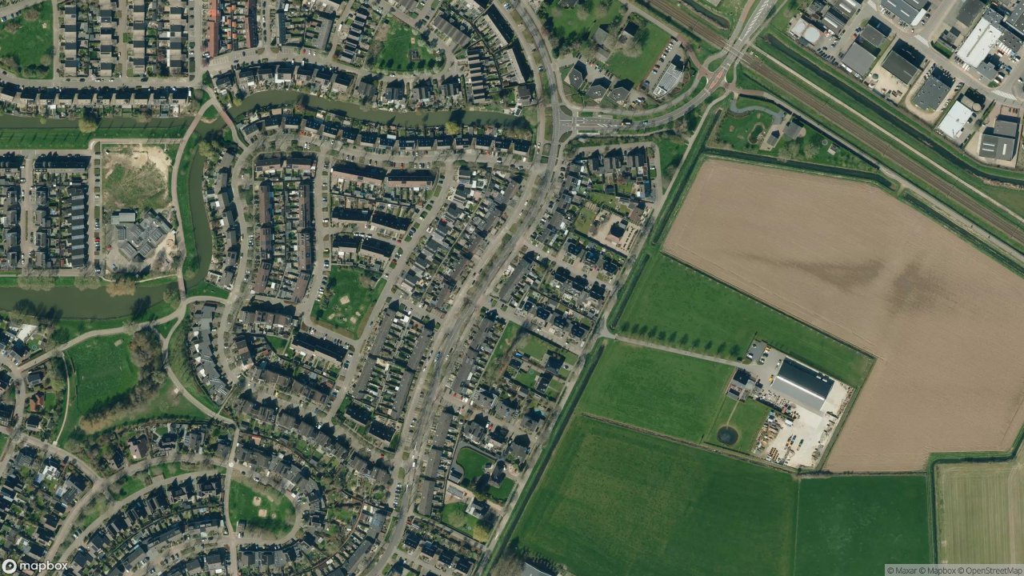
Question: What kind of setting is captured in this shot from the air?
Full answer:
The area seen from above is a residential area.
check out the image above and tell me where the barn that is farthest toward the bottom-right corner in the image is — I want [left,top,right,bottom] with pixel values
[772,367,830,411]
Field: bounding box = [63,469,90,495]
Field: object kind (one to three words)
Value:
house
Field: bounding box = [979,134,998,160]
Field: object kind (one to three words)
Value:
building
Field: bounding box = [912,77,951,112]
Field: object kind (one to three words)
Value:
building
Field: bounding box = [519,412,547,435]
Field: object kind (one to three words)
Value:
house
